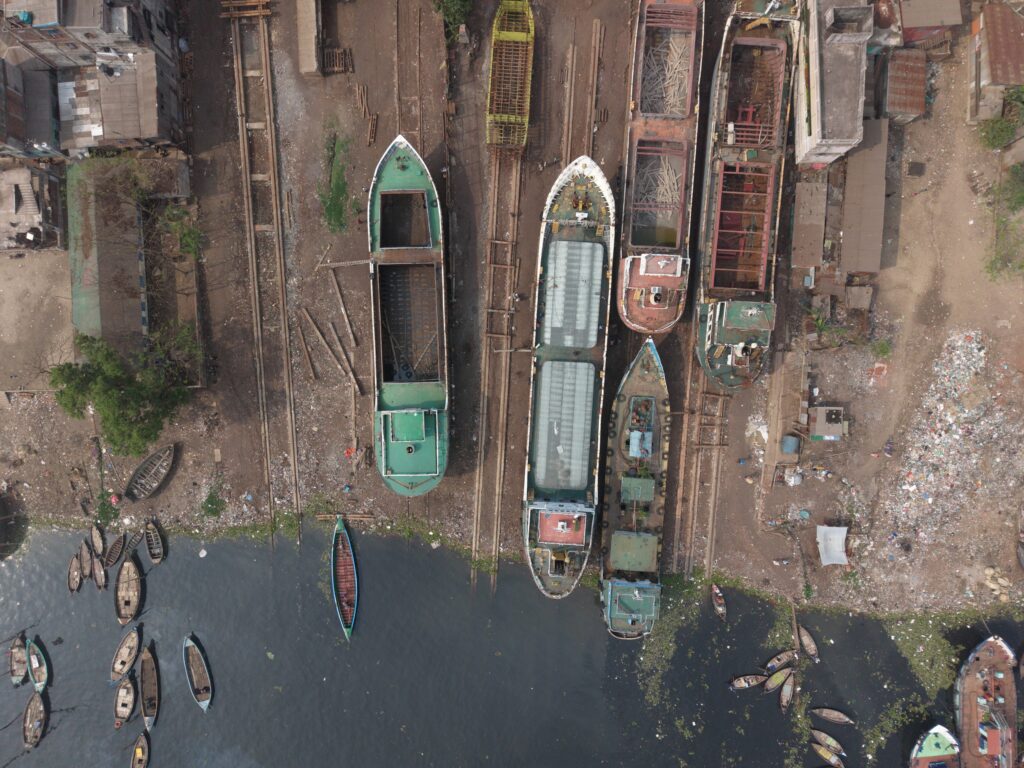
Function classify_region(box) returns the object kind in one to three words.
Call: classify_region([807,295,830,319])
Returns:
shed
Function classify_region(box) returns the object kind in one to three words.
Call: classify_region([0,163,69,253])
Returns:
building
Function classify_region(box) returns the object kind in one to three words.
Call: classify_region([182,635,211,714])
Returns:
boat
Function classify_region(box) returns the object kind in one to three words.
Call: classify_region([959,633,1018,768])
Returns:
ship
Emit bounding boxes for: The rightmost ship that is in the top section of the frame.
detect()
[692,0,799,388]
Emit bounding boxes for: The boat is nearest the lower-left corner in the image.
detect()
[21,693,46,752]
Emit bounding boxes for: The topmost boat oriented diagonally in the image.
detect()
[125,445,175,503]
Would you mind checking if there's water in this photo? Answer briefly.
Yes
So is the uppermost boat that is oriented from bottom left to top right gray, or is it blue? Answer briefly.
gray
